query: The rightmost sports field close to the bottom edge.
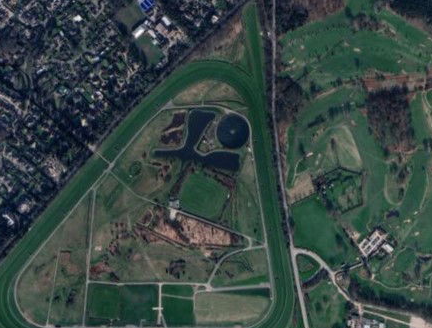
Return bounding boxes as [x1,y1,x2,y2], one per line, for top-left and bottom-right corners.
[162,286,193,326]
